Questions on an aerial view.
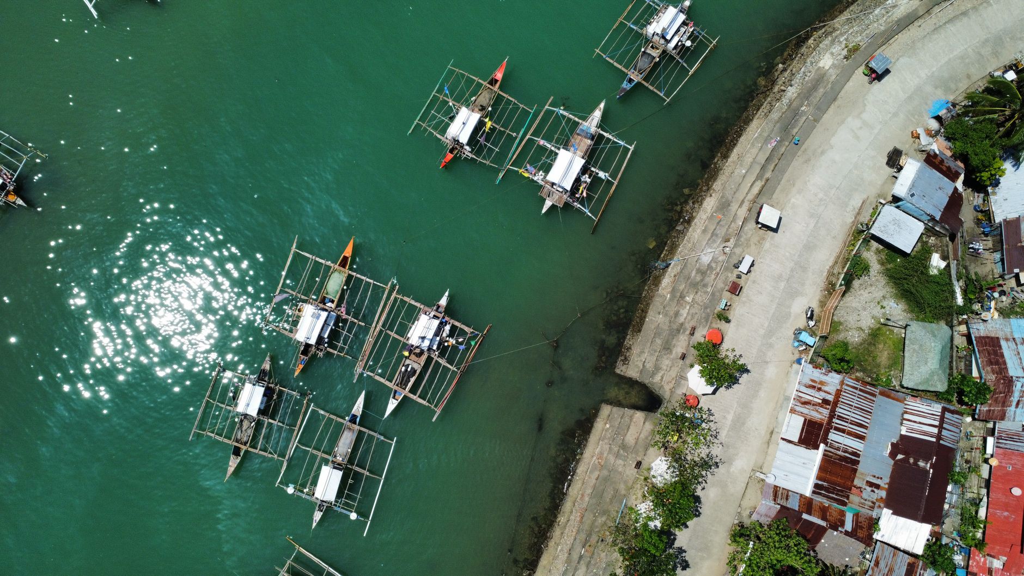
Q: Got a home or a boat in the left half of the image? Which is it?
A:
boat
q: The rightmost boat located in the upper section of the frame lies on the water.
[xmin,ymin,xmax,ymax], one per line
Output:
[593,0,721,105]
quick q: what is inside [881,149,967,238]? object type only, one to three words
house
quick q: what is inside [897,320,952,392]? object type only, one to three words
shed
